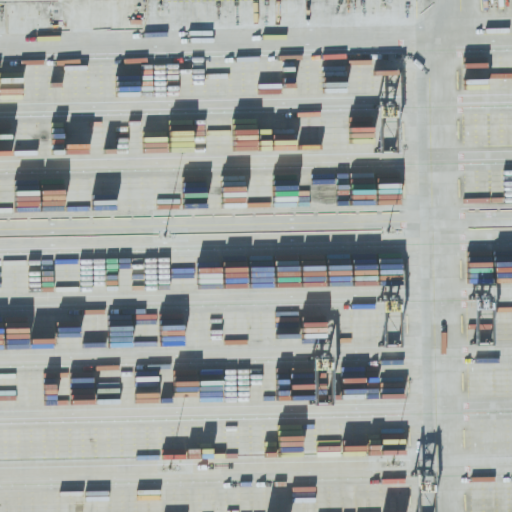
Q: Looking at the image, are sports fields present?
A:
No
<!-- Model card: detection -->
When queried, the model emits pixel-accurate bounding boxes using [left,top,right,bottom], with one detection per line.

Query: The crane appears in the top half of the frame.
[374,105,402,155]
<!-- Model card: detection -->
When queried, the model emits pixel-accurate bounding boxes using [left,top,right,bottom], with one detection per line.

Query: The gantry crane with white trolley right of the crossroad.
[470,296,496,346]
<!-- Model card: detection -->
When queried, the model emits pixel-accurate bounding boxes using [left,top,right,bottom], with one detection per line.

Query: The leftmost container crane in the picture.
[309,357,336,406]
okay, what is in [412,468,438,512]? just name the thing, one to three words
container crane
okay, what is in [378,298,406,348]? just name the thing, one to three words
container crane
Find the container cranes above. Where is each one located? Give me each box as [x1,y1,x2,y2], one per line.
[412,468,438,512]
[374,105,402,155]
[470,296,496,346]
[378,298,406,348]
[309,357,336,406]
